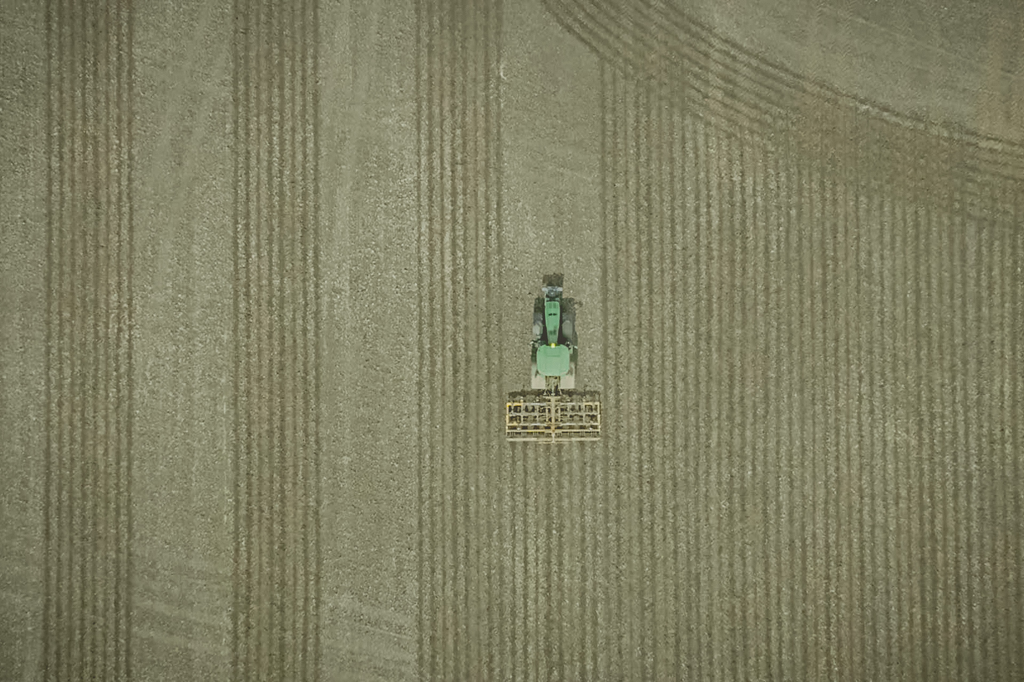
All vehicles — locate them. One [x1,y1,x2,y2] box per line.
[530,285,578,402]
